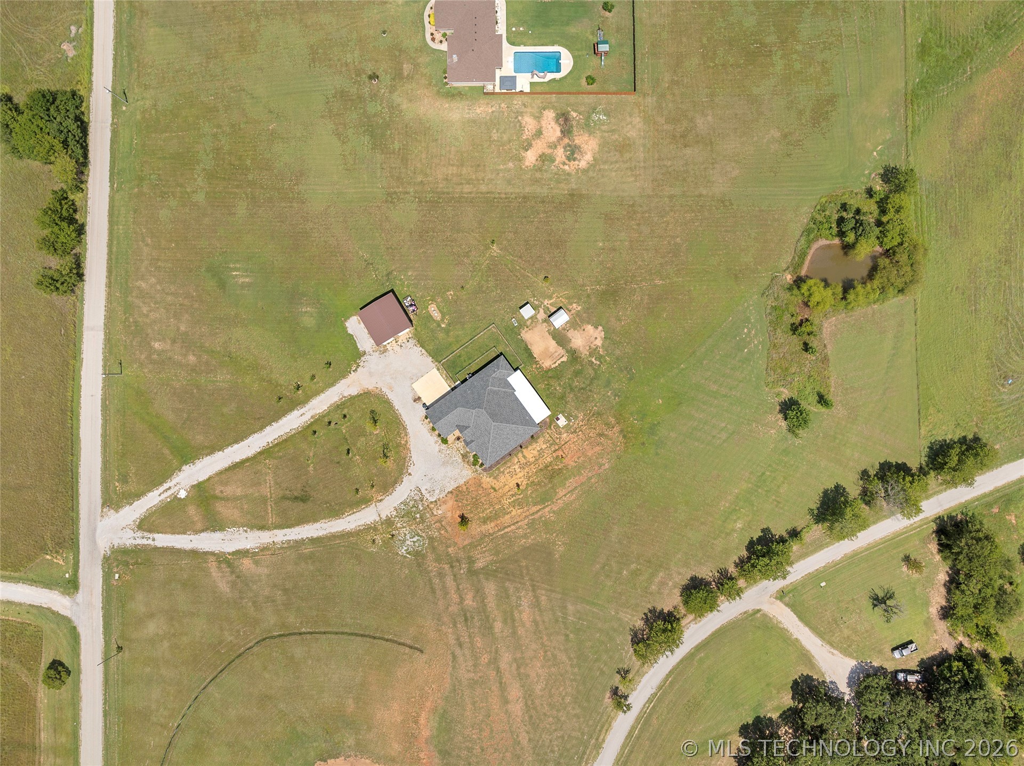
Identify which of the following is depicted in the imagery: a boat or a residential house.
residential house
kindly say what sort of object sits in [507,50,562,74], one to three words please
swimming pool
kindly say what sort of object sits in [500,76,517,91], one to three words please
gazebo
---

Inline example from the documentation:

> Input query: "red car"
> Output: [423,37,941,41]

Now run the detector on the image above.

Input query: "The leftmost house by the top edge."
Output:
[435,0,503,86]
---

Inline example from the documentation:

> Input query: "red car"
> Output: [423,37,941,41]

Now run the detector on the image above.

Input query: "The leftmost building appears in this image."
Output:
[358,292,413,346]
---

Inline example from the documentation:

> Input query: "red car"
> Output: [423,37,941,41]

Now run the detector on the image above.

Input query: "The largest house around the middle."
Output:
[426,355,551,467]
